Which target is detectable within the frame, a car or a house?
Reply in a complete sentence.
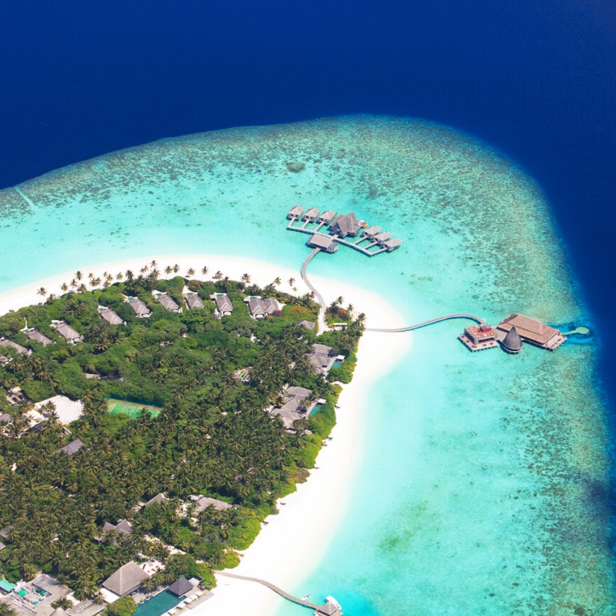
This aerial view contains a house.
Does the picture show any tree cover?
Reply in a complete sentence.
Yes, there's tree cover in this view.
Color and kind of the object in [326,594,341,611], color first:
white boat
